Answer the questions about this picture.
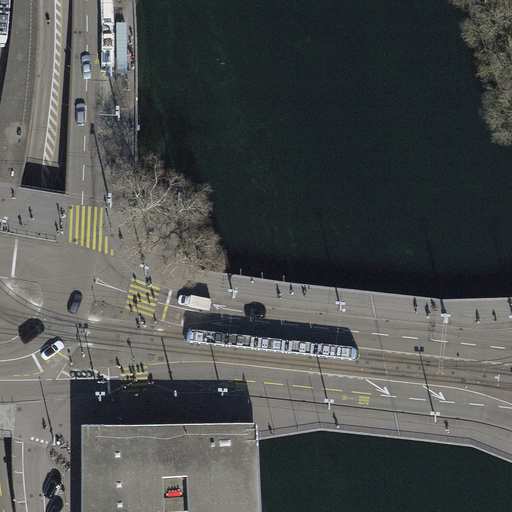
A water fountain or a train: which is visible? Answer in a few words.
train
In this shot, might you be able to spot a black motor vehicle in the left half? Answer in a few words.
Yes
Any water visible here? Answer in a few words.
Yes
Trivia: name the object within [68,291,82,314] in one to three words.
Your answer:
vehicle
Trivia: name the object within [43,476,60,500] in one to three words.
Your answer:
car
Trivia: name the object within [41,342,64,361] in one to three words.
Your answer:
car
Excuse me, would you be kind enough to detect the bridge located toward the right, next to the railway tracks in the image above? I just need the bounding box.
[222,272,512,465]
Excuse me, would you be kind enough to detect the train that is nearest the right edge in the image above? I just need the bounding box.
[186,331,358,360]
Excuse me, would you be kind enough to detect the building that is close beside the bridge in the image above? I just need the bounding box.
[79,424,262,512]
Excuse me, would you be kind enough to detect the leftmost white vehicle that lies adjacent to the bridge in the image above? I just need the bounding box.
[178,294,212,312]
